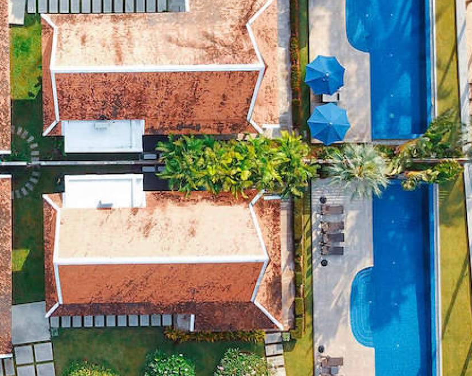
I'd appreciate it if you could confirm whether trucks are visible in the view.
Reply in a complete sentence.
No, I can see no truck in this picture.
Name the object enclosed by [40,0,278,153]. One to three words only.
house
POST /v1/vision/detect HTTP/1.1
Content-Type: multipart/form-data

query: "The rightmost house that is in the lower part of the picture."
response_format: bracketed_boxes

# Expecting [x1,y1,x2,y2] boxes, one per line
[41,174,286,333]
